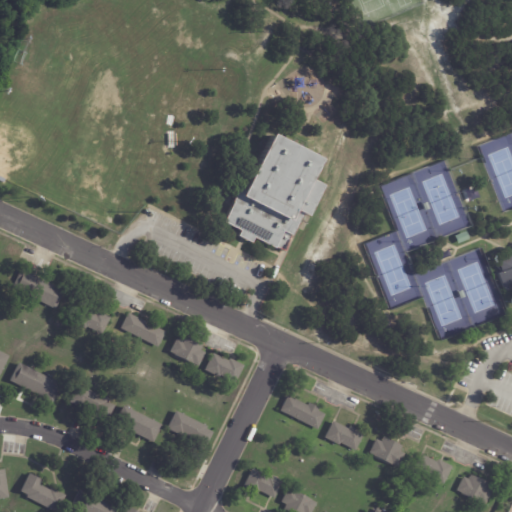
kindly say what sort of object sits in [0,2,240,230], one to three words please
sports field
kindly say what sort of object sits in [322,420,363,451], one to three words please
house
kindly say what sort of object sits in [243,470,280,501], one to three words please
house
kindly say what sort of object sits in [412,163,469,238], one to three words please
tennis court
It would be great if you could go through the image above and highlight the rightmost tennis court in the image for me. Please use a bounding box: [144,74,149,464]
[480,132,512,212]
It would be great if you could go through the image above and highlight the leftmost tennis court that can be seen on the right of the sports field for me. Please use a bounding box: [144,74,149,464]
[353,0,391,22]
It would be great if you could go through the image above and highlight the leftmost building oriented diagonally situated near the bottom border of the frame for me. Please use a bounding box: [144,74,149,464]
[20,470,68,512]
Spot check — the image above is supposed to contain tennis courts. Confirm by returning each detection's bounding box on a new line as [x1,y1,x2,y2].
[382,176,438,252]
[416,264,472,336]
[480,132,512,212]
[353,0,391,22]
[412,163,469,238]
[448,250,501,323]
[366,232,420,305]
